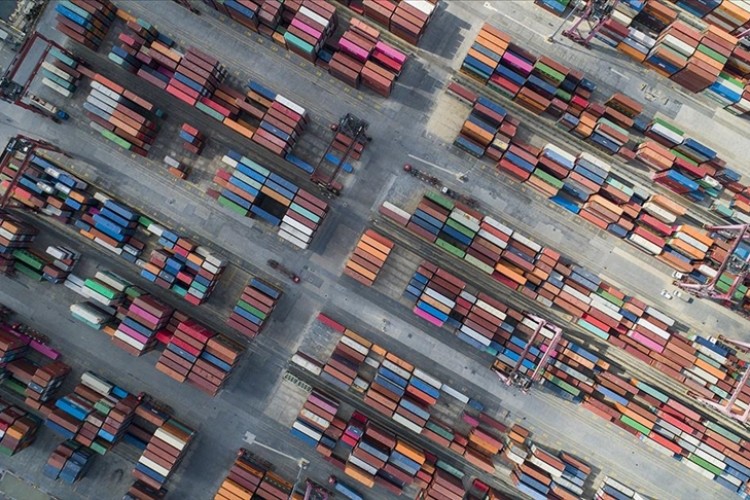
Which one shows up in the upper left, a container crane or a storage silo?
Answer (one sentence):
Looking in the upper left, you will find a container crane.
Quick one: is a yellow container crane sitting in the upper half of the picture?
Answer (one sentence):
No, no yellow container crane is visible in the upper half of the picture.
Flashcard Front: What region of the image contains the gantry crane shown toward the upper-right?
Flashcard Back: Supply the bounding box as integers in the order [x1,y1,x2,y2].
[560,0,620,48]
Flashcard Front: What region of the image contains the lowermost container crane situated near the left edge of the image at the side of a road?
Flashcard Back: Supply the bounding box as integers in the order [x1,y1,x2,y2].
[0,130,66,215]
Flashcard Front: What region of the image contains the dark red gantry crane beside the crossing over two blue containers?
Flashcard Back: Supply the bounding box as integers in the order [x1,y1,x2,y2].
[309,111,371,198]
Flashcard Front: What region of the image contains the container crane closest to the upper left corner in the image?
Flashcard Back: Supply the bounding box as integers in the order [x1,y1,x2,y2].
[0,23,85,119]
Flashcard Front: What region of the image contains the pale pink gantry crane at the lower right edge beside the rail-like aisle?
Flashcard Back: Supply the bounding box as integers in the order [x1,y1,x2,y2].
[687,335,750,425]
